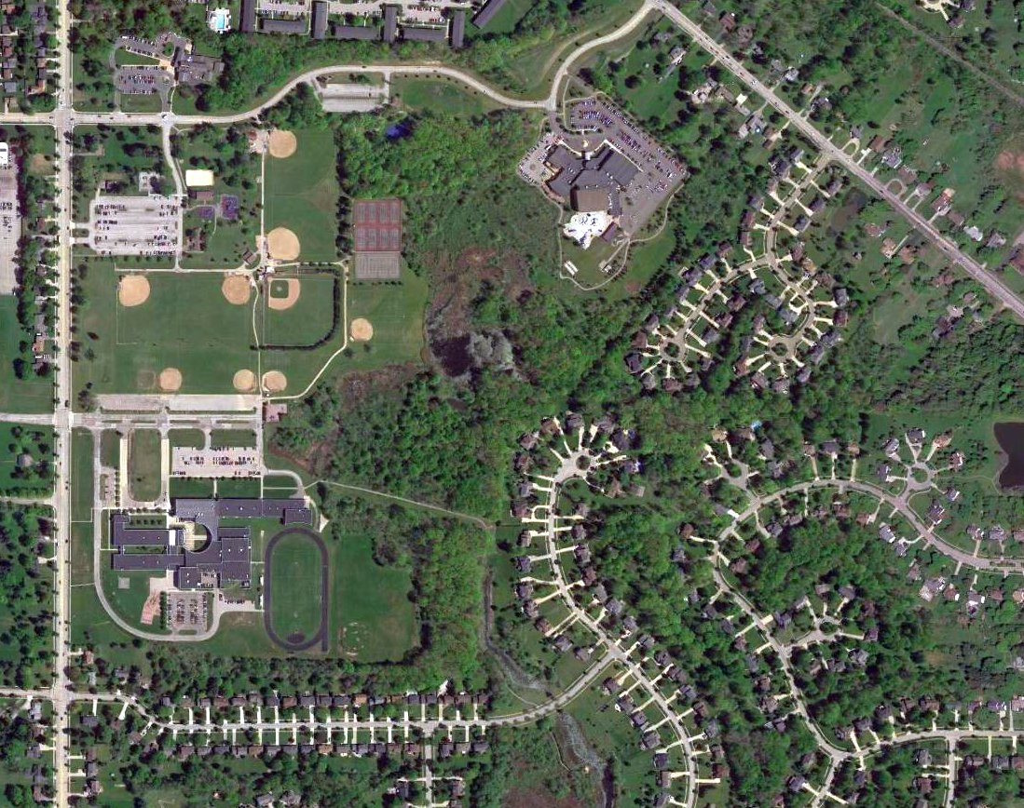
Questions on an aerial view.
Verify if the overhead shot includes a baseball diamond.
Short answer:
Yes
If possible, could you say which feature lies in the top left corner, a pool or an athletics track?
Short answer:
pool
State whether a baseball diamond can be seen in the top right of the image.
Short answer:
No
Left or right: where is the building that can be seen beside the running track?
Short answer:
left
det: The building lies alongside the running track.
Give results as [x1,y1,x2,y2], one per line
[113,500,312,589]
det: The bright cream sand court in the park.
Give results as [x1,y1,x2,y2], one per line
[186,170,214,186]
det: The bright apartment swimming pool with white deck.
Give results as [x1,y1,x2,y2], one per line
[209,8,231,32]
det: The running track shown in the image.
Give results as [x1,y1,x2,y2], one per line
[264,527,329,652]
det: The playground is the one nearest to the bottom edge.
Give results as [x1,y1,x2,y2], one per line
[141,591,166,625]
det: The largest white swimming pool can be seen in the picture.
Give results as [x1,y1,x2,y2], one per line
[564,212,618,249]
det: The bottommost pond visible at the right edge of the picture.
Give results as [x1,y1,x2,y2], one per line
[993,420,1024,489]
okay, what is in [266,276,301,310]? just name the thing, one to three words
baseball field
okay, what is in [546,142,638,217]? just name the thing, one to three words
building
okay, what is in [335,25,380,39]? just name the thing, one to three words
building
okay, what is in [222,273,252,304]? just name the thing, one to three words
baseball field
